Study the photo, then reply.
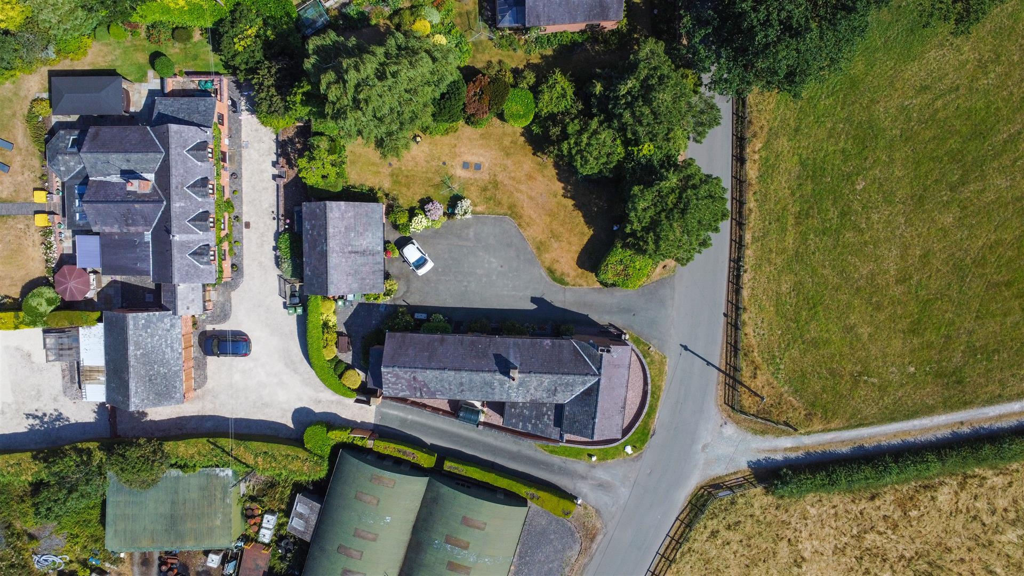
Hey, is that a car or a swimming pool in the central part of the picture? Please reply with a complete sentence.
Visible in the central part of the picture is a car.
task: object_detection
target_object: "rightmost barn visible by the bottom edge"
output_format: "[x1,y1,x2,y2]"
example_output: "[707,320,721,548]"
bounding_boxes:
[398,471,529,576]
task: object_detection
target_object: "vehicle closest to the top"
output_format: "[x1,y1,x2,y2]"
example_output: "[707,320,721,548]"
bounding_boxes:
[402,239,434,277]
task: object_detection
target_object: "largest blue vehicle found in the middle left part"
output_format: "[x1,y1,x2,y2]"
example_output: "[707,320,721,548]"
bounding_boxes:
[207,334,251,357]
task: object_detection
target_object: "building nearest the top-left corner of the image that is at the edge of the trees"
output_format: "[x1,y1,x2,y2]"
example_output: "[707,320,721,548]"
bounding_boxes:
[51,76,133,119]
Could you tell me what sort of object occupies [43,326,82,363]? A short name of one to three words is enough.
greenhouse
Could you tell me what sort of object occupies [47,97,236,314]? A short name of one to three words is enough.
house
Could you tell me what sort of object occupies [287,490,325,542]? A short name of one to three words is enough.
shed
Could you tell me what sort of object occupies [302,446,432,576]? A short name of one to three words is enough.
barn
